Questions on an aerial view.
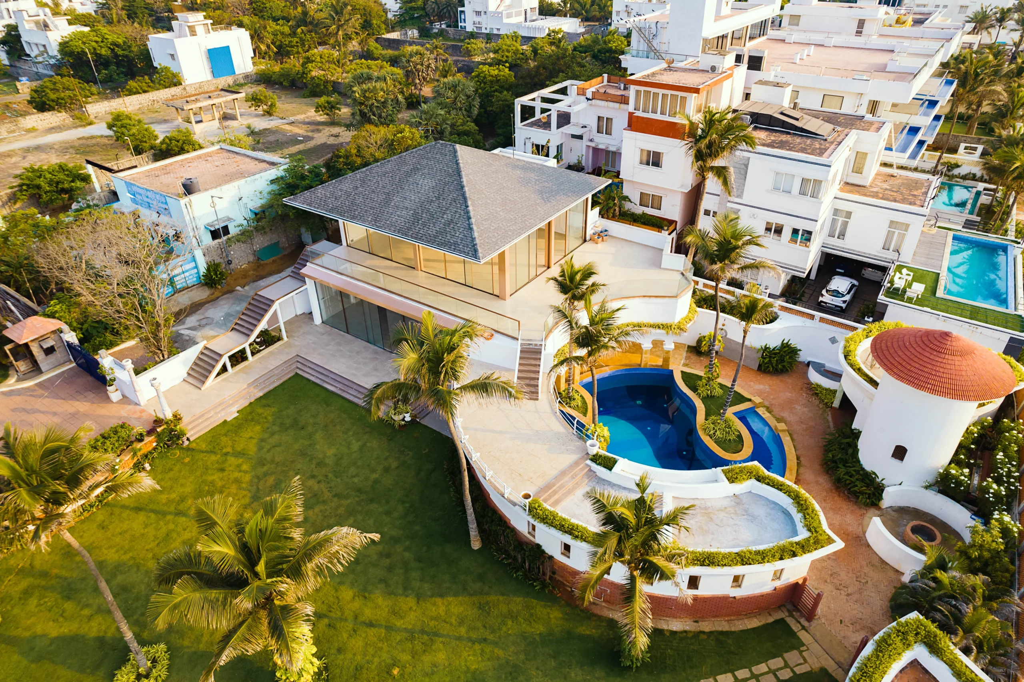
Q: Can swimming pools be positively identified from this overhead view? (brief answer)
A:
Yes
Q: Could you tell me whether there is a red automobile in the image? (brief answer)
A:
No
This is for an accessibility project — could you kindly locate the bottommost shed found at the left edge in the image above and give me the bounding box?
[1,312,72,382]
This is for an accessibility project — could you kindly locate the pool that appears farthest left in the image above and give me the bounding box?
[551,317,797,483]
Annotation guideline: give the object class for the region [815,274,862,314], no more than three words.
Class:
car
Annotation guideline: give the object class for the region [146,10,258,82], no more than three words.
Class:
building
